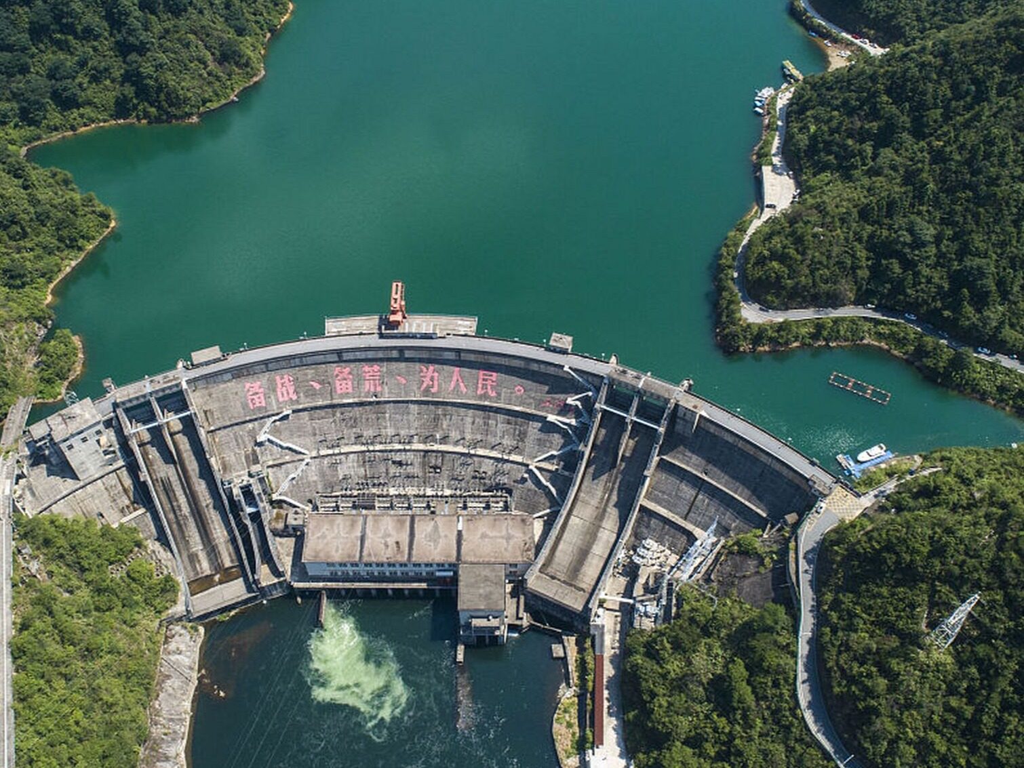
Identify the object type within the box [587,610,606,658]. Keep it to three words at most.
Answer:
shed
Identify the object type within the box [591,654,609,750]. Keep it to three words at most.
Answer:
building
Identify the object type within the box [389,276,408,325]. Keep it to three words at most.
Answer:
container crane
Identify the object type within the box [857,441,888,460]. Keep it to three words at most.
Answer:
boat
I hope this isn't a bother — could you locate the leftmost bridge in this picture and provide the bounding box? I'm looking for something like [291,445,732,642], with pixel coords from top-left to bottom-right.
[0,389,39,455]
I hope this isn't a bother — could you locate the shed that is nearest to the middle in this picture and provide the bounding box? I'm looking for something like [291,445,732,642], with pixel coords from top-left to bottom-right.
[547,332,573,357]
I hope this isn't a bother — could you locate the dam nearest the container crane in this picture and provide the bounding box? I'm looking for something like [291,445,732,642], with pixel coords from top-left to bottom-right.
[0,334,837,565]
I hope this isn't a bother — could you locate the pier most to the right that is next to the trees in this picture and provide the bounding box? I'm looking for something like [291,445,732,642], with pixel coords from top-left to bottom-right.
[843,452,894,479]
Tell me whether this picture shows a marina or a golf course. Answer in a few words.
marina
